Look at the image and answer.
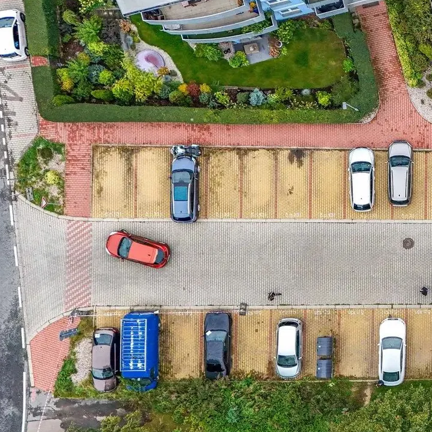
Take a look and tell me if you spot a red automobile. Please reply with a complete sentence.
Yes, there's a red automobile down there.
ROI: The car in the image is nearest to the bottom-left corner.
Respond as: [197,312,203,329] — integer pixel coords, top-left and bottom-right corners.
[88,328,123,391]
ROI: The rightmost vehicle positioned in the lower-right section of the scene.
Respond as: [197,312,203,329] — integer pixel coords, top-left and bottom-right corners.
[375,316,408,386]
